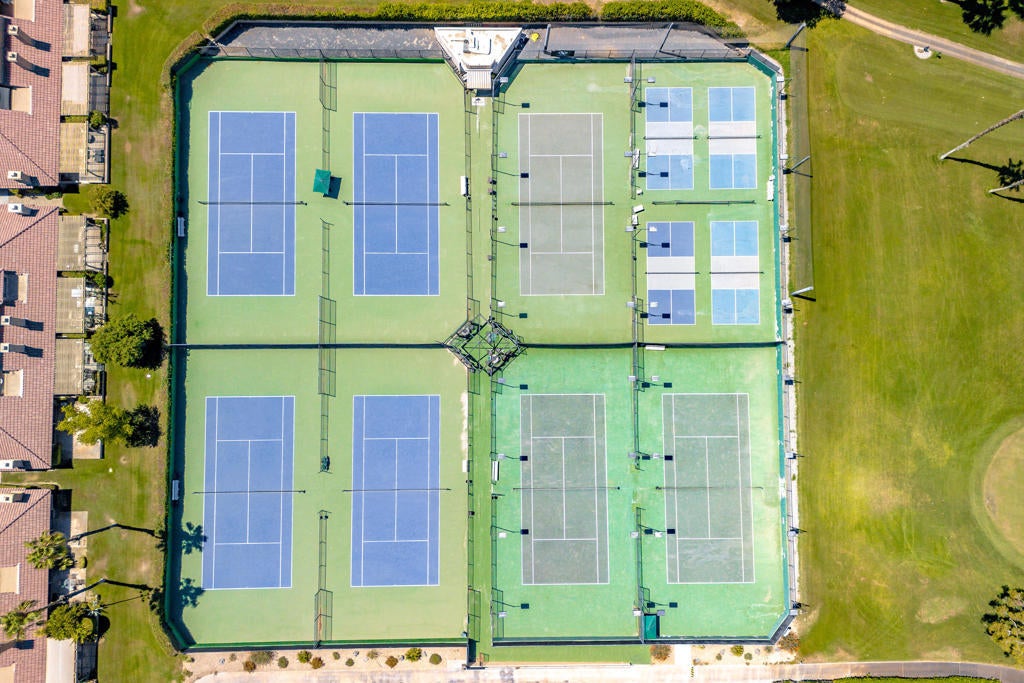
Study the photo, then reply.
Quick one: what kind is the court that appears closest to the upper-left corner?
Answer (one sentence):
Looking closely, the court that appears closest to the upper-left corner is a tennis court.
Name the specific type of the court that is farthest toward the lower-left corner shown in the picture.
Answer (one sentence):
What you see as the court that is farthest toward the lower-left corner is a tennis court.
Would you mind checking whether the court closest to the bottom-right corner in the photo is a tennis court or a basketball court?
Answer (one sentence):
Looking closely, the court closest to the bottom-right corner is a tennis court.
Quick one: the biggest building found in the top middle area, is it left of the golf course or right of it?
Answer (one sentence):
The biggest building found in the top middle area can be seen on the left of the golf course.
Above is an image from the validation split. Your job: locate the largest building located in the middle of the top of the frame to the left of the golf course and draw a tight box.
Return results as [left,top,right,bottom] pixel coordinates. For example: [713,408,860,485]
[434,27,522,79]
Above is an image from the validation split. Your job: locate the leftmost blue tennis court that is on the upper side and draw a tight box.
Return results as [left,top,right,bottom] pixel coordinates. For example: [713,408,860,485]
[207,111,296,296]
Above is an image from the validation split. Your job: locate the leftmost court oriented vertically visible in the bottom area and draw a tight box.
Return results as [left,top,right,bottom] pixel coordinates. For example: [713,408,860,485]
[202,396,295,590]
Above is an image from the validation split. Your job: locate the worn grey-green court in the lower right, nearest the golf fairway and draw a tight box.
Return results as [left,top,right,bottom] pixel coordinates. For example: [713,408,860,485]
[662,394,755,584]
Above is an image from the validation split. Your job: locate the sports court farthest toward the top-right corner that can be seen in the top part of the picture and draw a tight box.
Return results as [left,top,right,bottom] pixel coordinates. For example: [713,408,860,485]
[708,87,757,189]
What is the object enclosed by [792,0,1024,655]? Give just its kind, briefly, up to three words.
golf course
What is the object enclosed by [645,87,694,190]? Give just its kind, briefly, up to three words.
sports court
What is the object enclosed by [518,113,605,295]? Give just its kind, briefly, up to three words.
tennis court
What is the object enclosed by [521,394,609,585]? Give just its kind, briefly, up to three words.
tennis court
